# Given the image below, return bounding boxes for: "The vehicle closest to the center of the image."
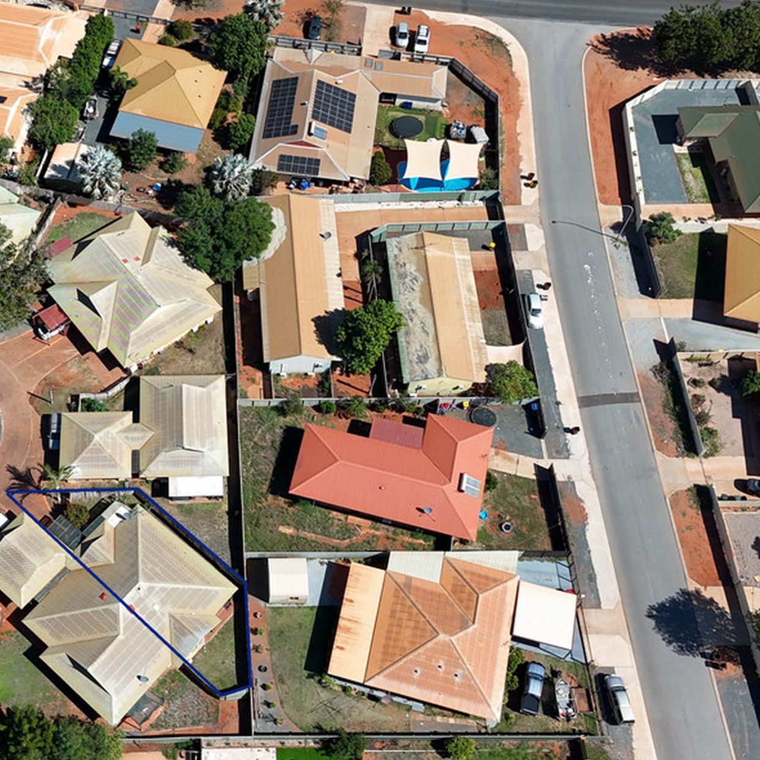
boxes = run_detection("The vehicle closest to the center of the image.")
[523,292,545,327]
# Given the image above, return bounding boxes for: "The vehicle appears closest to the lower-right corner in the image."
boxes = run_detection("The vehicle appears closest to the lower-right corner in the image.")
[603,669,639,727]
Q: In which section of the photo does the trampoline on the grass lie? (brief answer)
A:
top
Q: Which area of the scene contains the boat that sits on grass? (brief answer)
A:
bottom right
